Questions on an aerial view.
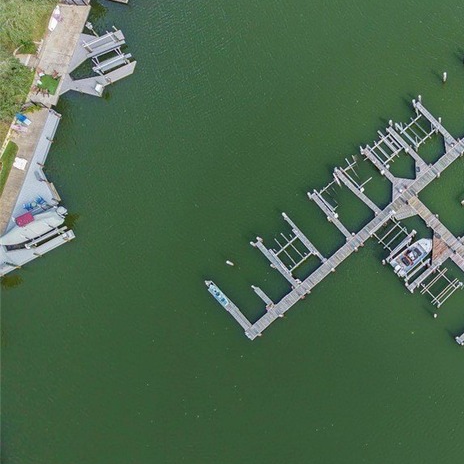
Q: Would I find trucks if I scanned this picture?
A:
No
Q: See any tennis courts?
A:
No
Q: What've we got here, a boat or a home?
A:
boat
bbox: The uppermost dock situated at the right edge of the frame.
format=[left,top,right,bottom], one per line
[412,94,457,143]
